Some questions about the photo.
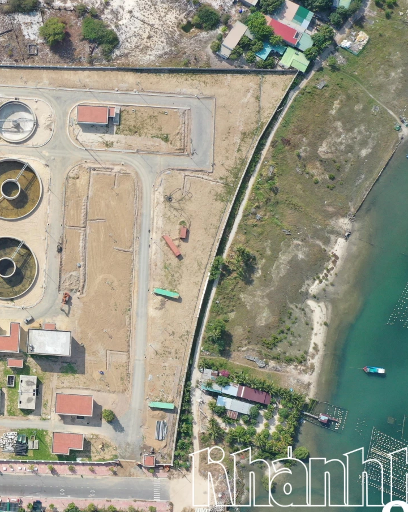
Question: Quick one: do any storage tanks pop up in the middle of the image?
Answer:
No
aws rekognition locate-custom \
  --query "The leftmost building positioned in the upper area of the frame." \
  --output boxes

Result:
[76,106,108,126]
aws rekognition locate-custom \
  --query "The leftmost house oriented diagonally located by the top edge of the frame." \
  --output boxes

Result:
[216,21,248,60]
